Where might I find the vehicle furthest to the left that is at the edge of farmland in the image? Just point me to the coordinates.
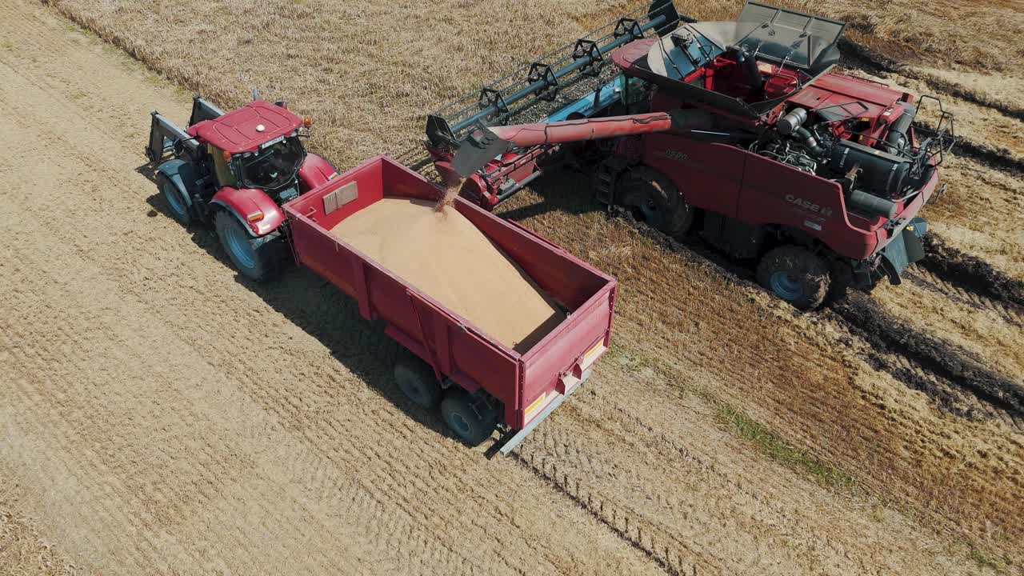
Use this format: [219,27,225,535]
[150,91,336,282]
